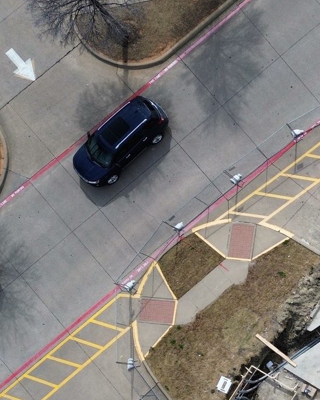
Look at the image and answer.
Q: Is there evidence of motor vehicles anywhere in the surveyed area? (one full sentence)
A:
Yes, there's a motor vehicle down there.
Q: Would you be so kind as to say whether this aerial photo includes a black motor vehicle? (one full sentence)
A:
Yes, a black motor vehicle can be made out from above.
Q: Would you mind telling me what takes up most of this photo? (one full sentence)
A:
What you mostly see from above here is paved ground.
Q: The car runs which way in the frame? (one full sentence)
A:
The car runs at an angle in the image.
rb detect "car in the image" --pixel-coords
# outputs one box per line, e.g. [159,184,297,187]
[71,94,169,188]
